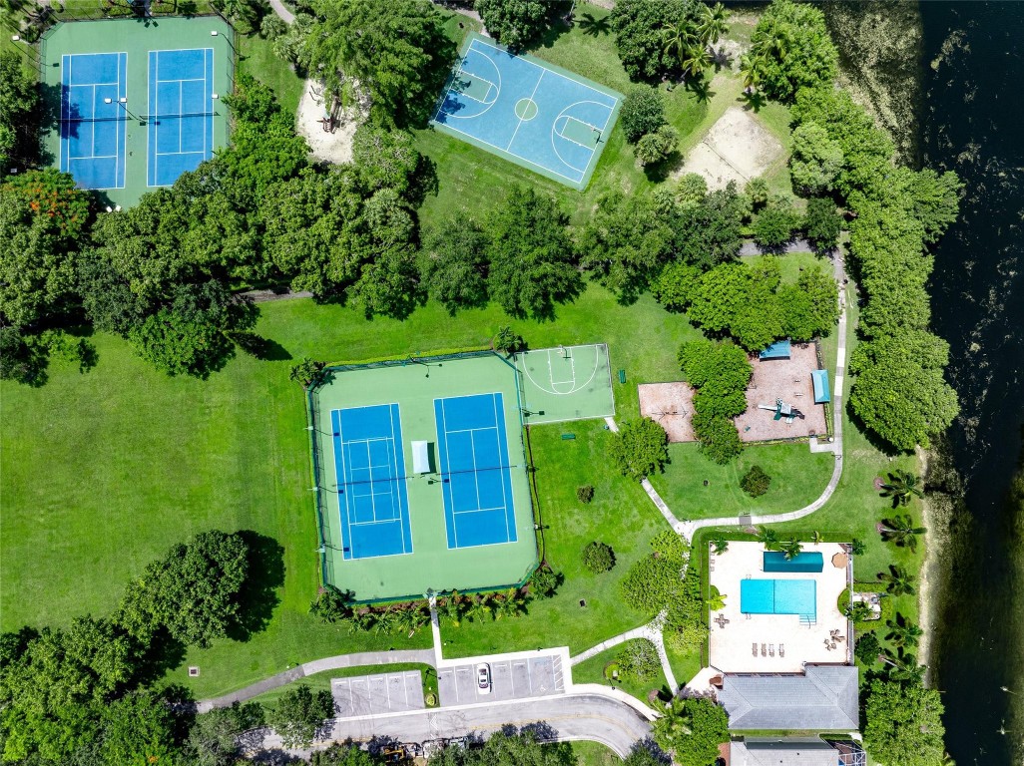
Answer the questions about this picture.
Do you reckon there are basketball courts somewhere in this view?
Yes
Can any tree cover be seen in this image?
Yes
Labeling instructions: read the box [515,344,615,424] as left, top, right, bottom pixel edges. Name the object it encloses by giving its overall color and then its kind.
green basketball court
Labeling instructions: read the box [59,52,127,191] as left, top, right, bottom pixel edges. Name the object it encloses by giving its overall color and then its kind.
blue tennis court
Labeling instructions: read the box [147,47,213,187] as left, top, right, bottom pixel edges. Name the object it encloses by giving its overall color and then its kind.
blue tennis court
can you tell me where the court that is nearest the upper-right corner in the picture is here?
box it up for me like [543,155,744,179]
[671,105,788,194]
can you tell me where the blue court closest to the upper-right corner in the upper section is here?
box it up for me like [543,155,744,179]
[432,30,625,192]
